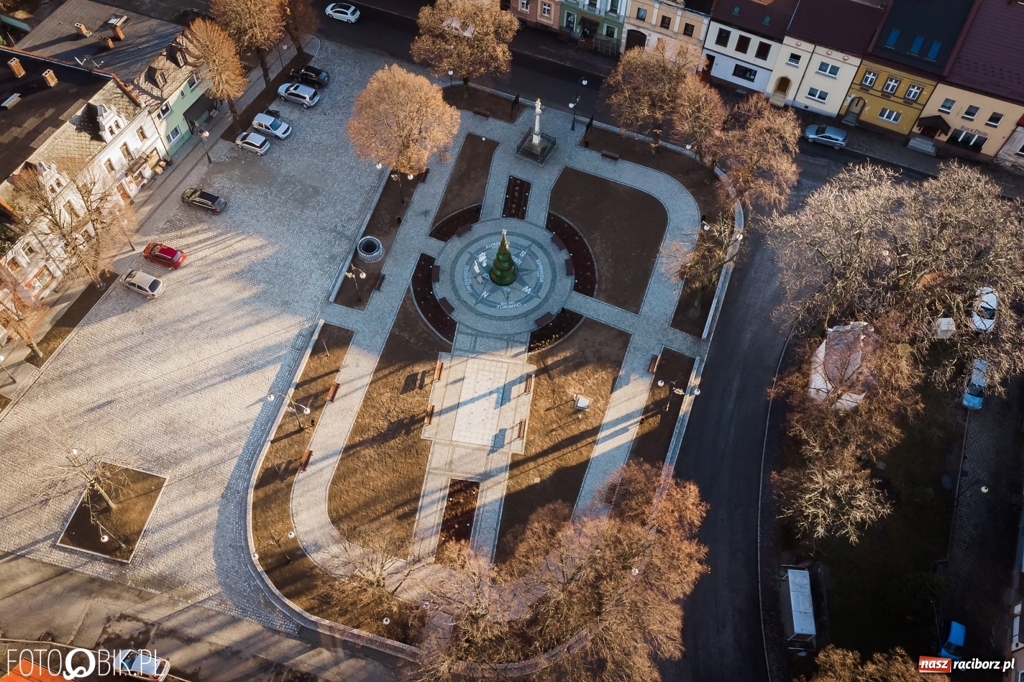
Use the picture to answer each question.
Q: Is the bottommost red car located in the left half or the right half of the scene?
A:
left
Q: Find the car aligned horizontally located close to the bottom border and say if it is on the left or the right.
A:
left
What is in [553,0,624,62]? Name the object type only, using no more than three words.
house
